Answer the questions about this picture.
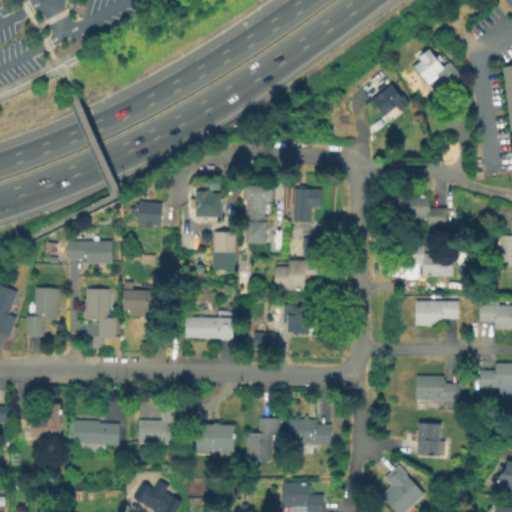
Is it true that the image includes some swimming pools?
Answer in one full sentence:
No, the scene contains no swimming pool.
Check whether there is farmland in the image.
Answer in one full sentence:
No, there's no farmland in this view.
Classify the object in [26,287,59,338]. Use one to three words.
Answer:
house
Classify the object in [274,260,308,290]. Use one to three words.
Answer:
house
